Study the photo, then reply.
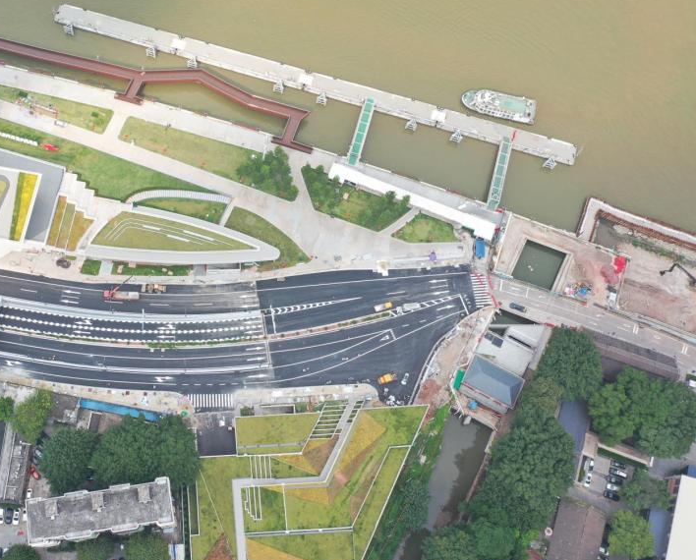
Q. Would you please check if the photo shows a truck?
Yes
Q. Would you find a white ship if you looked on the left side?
No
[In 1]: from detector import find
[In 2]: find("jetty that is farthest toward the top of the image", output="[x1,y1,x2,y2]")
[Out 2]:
[55,4,184,57]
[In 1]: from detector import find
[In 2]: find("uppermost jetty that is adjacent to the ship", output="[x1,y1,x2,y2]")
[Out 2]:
[304,73,438,128]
